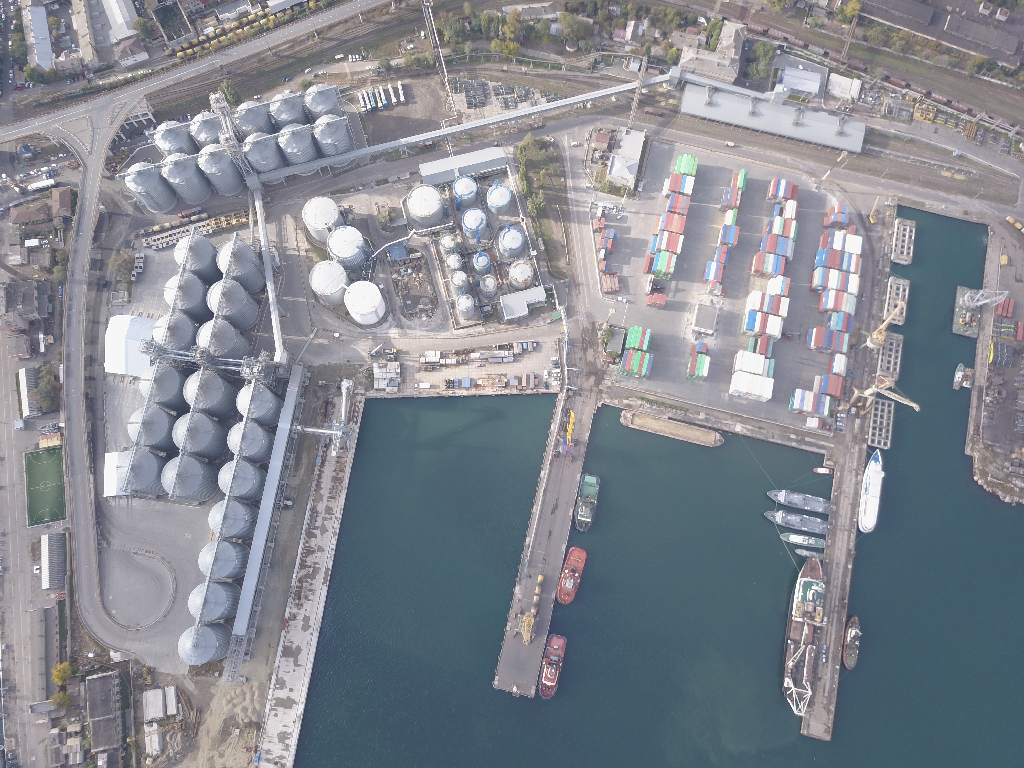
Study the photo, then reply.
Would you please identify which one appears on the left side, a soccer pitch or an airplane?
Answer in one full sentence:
The feature located on the left side is a soccer pitch.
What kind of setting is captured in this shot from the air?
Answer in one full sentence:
The picture captures a port.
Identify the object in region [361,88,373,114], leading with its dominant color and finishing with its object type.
white vehicle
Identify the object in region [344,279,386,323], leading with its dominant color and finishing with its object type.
white storage tank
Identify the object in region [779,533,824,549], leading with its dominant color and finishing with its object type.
white boat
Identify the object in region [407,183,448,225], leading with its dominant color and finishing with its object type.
white storage tank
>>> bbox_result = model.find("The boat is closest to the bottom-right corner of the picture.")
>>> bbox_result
[842,616,862,670]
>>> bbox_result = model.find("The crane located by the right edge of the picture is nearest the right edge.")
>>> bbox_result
[950,285,1009,339]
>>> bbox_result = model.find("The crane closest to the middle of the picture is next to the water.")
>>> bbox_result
[553,410,580,464]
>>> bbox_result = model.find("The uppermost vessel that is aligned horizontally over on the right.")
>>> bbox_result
[620,408,725,449]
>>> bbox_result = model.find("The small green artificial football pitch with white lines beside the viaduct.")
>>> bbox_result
[17,447,67,528]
